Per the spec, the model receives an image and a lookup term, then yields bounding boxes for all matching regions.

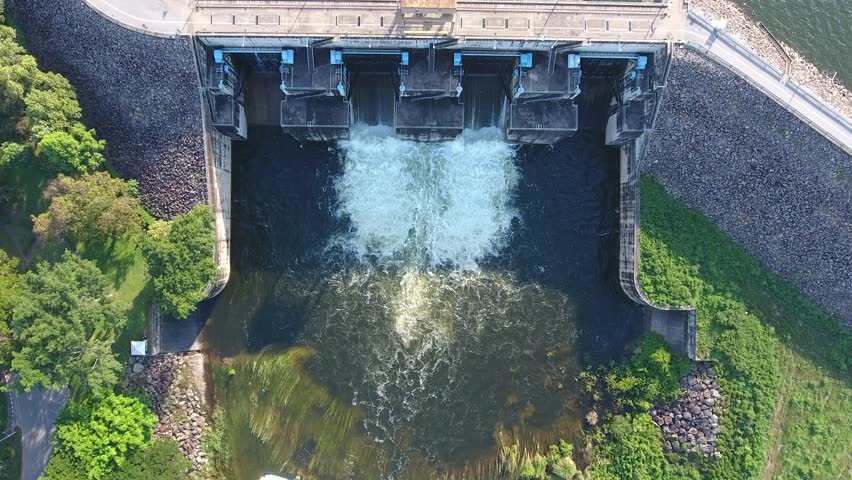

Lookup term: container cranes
[398,0,458,32]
